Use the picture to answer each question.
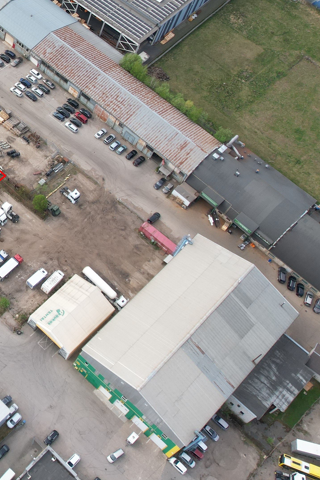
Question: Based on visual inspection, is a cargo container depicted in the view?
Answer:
Yes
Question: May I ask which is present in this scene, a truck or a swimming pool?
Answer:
truck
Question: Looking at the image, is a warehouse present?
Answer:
Yes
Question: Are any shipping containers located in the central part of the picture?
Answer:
Yes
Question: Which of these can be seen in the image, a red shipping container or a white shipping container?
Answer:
red shipping container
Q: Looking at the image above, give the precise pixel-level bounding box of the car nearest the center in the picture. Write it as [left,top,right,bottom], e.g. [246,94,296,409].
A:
[146,212,160,225]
